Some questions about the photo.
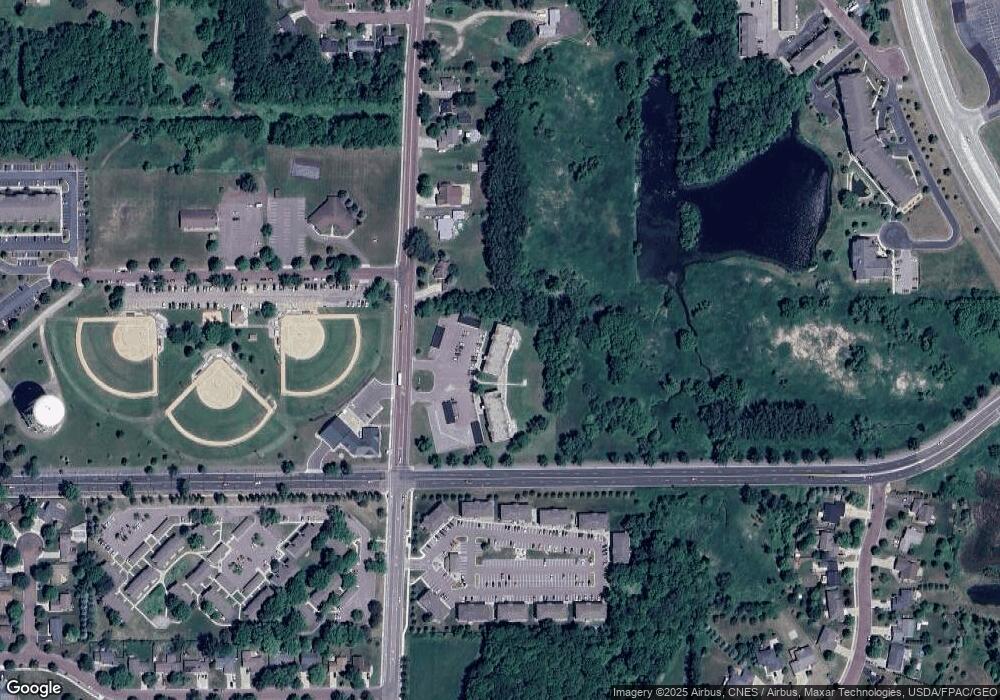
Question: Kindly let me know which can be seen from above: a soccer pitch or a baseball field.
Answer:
baseball field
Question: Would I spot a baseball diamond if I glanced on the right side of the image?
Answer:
No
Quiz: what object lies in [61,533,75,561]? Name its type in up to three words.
house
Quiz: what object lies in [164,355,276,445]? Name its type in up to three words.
baseball field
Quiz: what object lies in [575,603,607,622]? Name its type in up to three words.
building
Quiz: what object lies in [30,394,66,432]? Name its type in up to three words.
water tower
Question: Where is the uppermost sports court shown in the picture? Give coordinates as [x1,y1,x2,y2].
[291,161,320,179]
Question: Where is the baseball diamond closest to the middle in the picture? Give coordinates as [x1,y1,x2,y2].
[277,310,360,395]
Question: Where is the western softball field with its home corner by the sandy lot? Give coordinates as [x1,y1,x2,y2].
[77,312,161,397]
